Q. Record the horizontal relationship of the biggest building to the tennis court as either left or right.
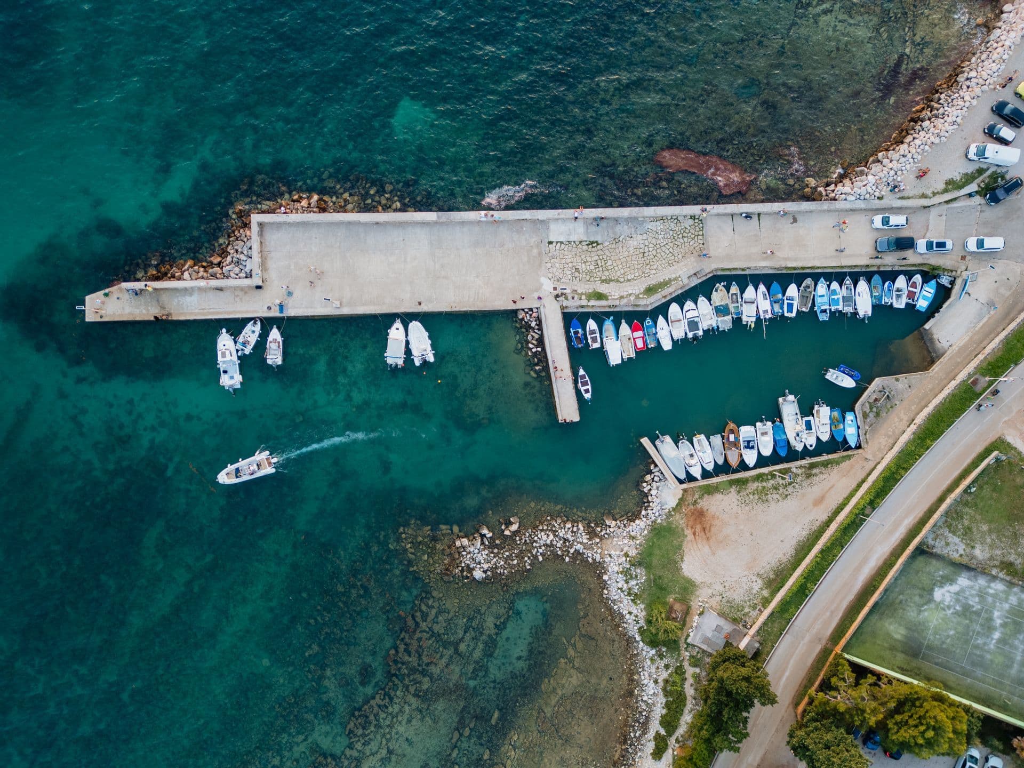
on the left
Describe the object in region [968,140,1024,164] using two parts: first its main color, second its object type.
white vehicle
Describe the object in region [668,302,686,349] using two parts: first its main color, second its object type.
white boat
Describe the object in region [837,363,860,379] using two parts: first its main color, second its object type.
blue boat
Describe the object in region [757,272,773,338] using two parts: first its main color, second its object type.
white boat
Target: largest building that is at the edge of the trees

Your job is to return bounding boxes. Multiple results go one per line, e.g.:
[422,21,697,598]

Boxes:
[686,602,757,654]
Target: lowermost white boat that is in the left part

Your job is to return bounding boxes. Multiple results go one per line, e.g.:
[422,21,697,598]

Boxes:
[217,451,280,485]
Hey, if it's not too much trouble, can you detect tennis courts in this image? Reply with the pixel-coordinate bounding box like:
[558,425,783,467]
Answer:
[840,543,1024,726]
